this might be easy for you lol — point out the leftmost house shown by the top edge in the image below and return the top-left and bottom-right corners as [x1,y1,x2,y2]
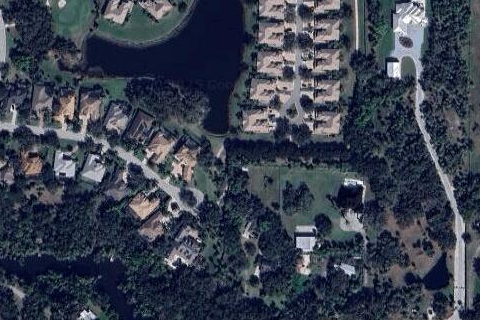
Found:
[101,0,133,24]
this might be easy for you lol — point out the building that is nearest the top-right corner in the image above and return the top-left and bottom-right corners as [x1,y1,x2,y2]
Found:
[392,2,429,34]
